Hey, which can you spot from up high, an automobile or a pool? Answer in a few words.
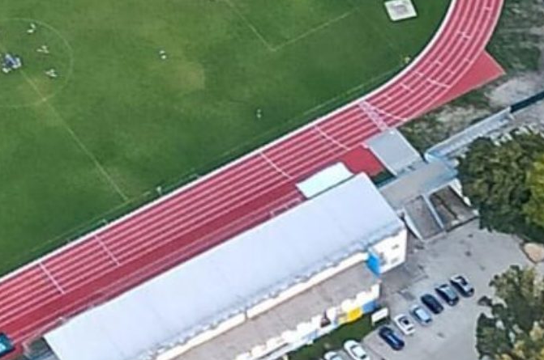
automobile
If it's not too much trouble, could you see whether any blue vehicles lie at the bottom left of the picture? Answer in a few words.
No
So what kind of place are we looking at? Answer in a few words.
sports ground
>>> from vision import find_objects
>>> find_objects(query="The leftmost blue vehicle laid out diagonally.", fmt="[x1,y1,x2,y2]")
[377,326,407,350]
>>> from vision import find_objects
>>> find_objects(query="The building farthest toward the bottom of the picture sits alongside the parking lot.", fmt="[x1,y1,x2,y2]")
[149,256,377,360]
